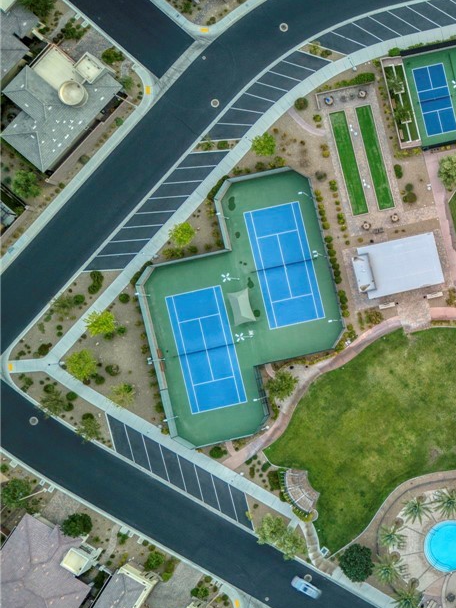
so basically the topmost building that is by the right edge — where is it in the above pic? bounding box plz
[352,232,444,299]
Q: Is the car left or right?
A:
right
